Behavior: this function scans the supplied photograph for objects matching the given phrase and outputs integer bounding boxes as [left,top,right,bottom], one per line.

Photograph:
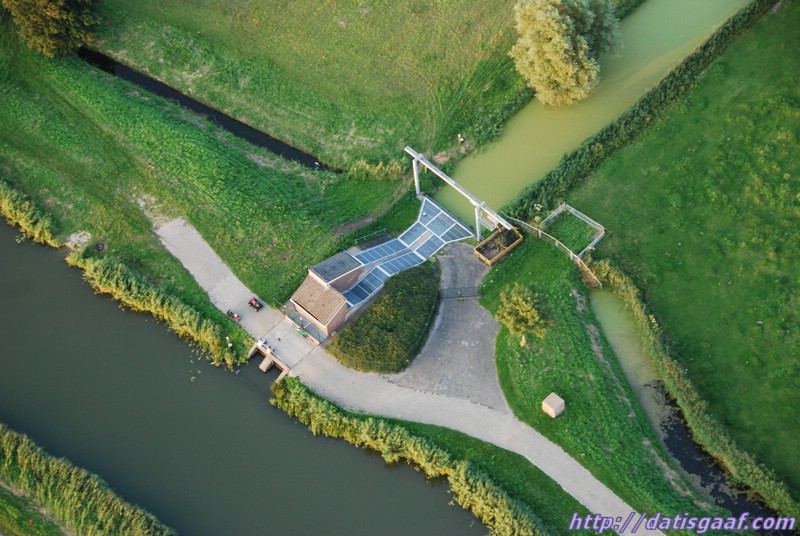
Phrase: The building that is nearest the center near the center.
[289,248,365,335]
